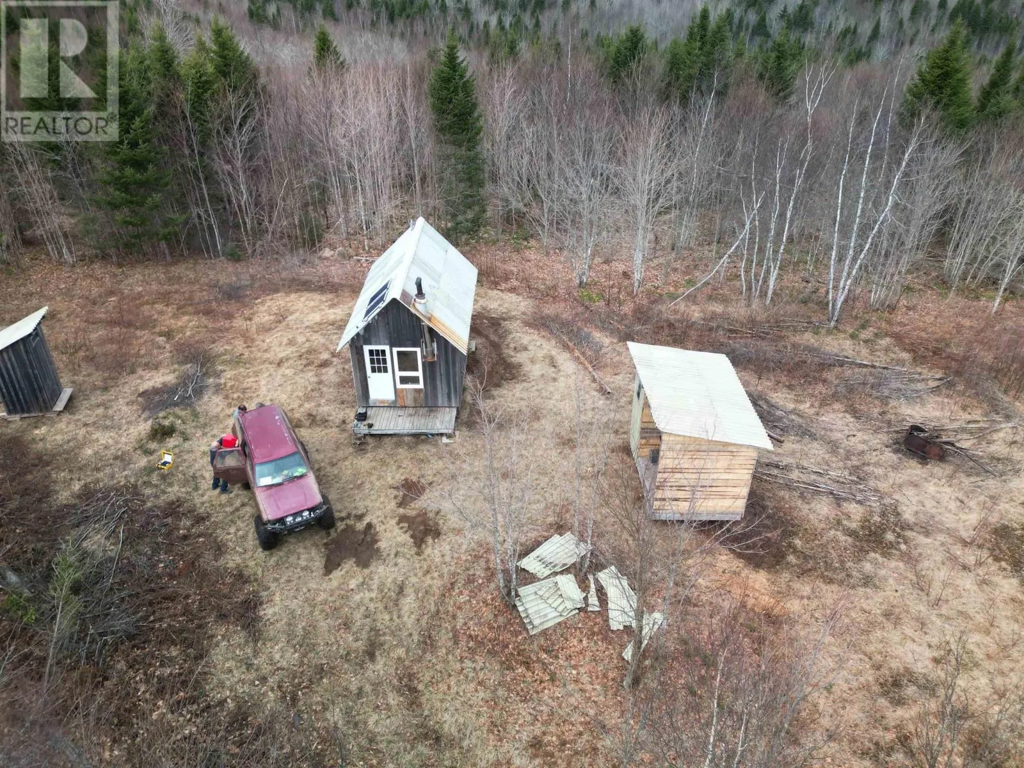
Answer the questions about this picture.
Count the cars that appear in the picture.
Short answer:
1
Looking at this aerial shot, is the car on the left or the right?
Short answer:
left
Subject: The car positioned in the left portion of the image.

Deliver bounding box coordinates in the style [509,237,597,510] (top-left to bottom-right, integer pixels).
[210,404,343,557]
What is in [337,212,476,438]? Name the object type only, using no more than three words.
building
